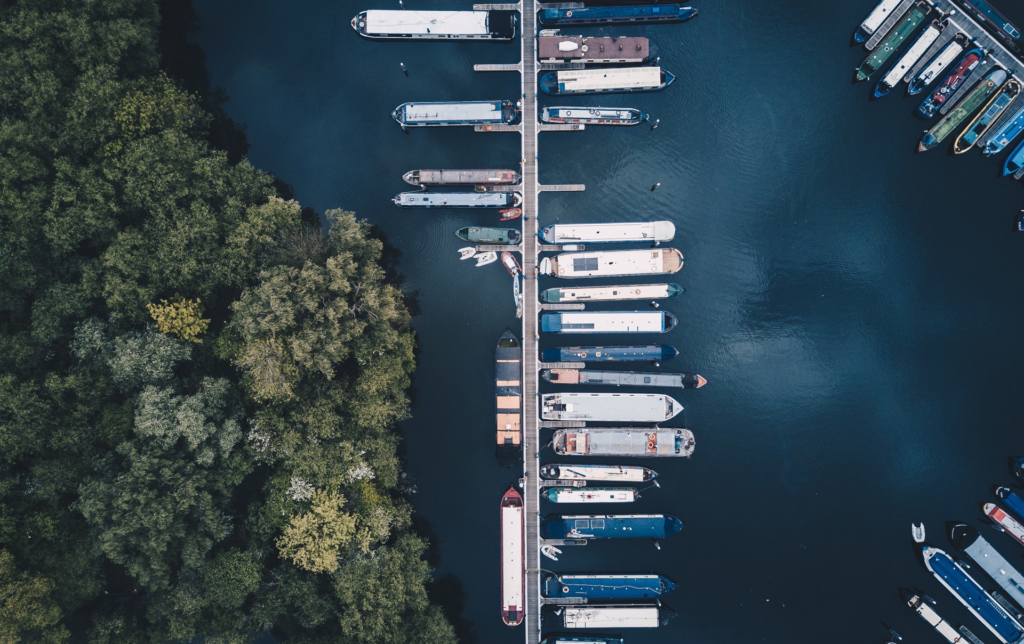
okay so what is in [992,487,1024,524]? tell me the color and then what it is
blue boat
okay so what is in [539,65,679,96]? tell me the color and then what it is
white ship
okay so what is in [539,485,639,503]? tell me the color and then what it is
white boat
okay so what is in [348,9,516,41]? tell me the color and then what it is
white ship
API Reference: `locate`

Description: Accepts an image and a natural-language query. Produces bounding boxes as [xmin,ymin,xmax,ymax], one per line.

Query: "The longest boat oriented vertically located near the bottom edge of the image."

[499,483,524,627]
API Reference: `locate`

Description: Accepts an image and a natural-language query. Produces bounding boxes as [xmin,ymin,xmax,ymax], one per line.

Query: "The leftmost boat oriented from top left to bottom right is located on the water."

[501,252,523,280]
